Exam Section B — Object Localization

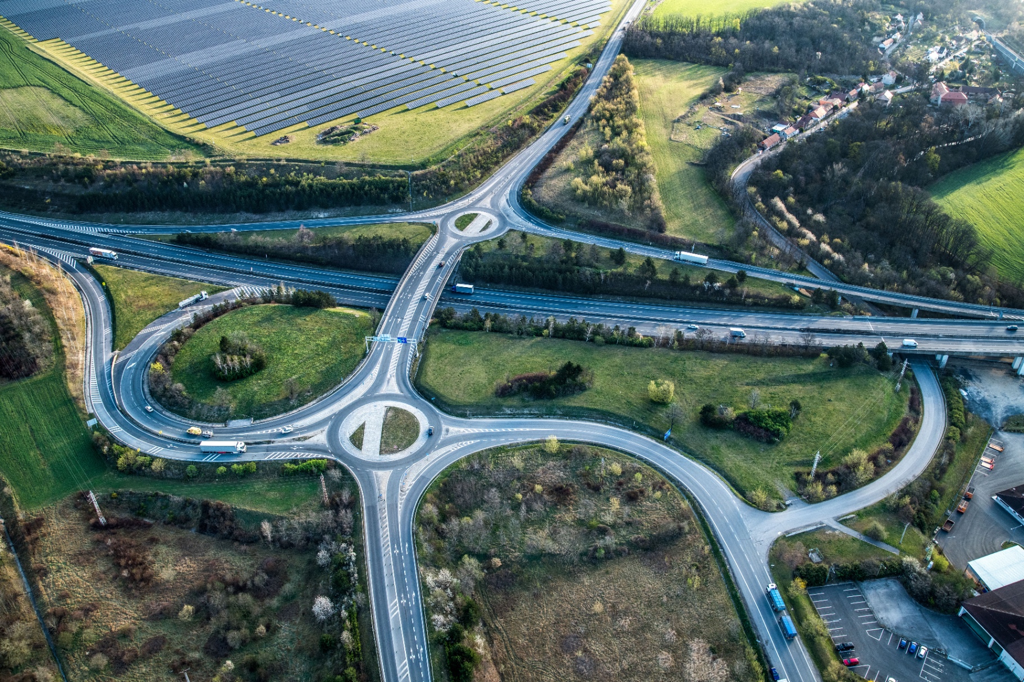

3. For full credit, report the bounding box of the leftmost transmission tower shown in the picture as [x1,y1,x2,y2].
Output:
[83,491,106,527]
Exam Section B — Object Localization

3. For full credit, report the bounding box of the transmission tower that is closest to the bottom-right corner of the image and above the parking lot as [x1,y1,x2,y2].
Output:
[808,451,824,478]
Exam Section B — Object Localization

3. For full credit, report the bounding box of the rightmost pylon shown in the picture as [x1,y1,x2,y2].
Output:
[894,360,912,393]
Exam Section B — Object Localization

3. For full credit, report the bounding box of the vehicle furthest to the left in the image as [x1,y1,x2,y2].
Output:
[86,245,119,260]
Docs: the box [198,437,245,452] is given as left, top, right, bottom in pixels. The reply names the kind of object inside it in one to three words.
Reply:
vehicle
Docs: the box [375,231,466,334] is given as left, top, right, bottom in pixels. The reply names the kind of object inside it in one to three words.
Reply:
bridge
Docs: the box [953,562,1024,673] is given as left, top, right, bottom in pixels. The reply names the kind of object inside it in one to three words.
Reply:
building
